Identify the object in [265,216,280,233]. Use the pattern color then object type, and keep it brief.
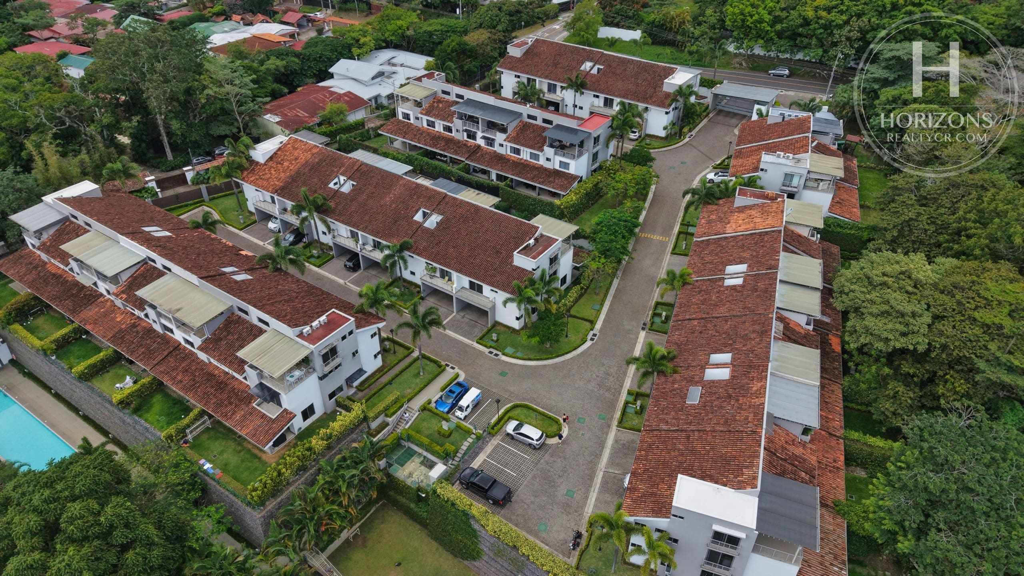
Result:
white car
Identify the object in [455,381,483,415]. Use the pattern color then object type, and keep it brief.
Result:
white truck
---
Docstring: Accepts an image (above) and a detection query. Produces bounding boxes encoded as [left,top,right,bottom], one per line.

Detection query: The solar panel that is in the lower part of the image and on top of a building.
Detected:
[686,383,701,400]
